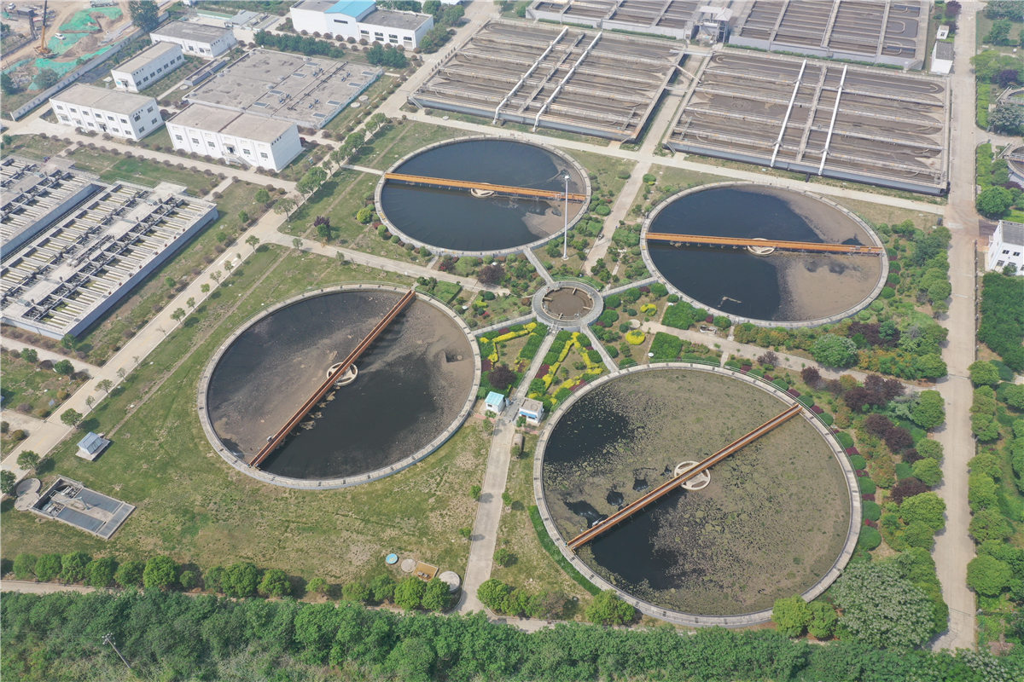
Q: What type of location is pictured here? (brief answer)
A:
industrial area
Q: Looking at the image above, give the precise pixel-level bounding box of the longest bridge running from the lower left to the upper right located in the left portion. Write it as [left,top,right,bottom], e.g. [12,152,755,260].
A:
[245,289,419,471]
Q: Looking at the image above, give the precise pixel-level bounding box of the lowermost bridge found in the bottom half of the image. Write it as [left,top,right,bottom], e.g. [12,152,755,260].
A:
[563,403,808,555]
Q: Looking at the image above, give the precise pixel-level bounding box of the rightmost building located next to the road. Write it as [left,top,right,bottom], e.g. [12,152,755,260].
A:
[980,219,1024,275]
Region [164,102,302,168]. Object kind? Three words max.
building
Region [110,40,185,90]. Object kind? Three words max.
building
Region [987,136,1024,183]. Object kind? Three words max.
storage tank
